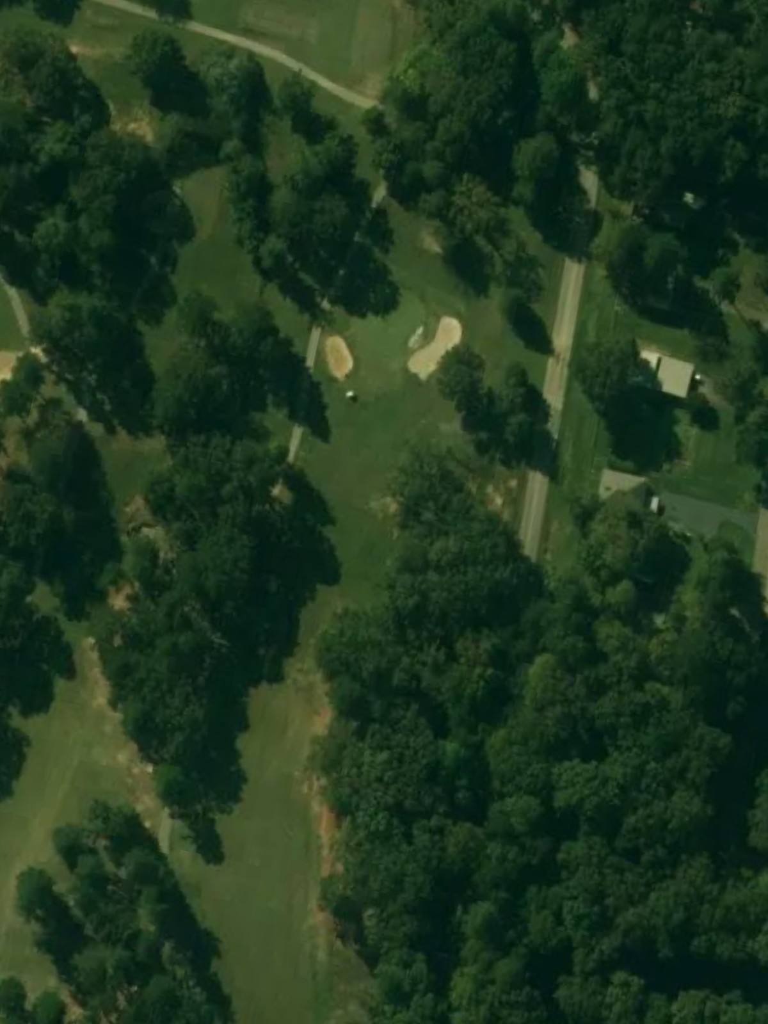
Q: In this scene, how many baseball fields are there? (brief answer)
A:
0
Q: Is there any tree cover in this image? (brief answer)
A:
Yes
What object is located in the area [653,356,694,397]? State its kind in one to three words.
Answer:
building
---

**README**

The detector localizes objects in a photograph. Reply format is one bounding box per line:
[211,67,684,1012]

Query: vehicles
[346,391,356,399]
[649,495,660,513]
